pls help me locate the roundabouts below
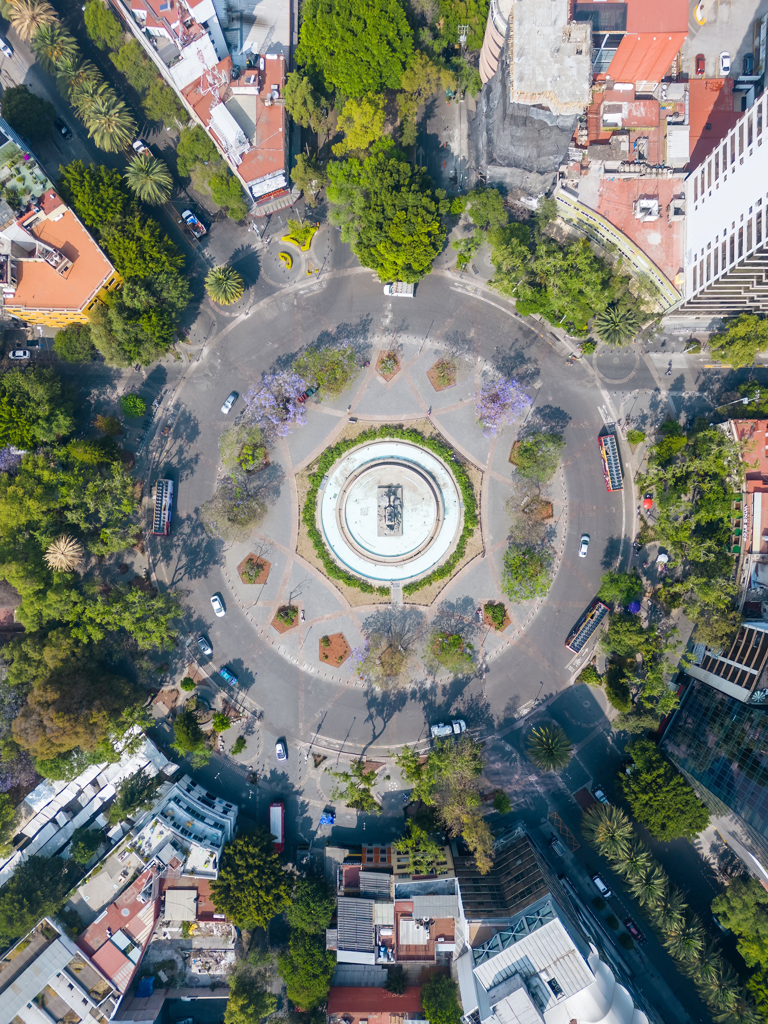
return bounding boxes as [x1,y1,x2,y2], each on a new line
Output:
[140,263,641,764]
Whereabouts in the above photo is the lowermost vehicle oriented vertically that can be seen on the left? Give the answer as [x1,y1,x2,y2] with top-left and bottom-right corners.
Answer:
[270,796,286,850]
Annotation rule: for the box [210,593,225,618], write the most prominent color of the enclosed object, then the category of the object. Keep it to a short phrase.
white car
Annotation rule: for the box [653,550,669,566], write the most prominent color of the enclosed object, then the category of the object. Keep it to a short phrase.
white umbrella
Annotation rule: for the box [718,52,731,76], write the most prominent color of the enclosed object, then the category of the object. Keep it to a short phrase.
white vehicle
